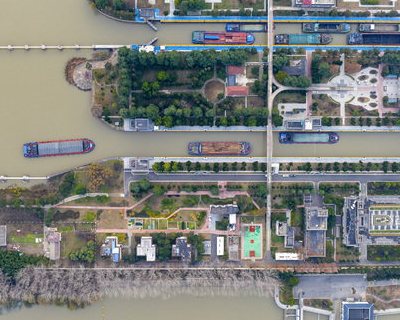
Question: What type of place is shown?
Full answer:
This looks like a port.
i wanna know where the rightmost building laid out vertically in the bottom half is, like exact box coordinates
[340,196,364,248]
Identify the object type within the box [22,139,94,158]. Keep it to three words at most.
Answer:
ship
